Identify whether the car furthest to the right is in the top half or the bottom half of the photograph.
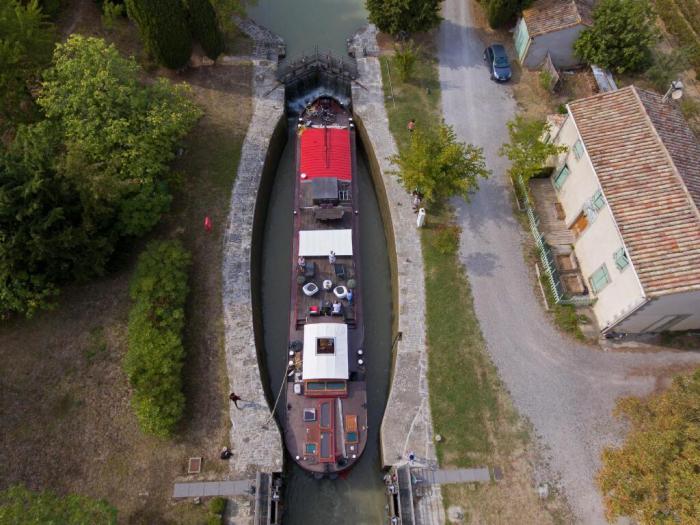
top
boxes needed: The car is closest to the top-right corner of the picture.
[486,39,515,80]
